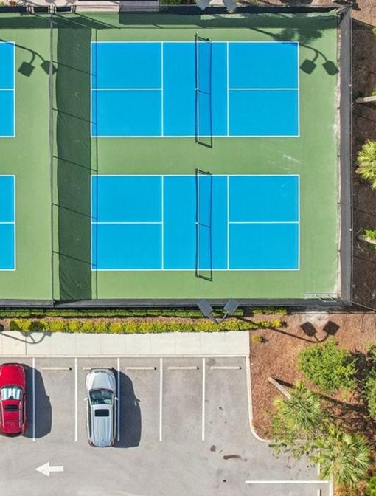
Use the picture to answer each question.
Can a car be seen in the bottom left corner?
Yes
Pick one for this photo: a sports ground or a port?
sports ground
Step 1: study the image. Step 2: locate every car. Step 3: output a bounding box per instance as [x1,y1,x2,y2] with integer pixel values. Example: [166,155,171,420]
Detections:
[83,367,121,446]
[0,361,30,436]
